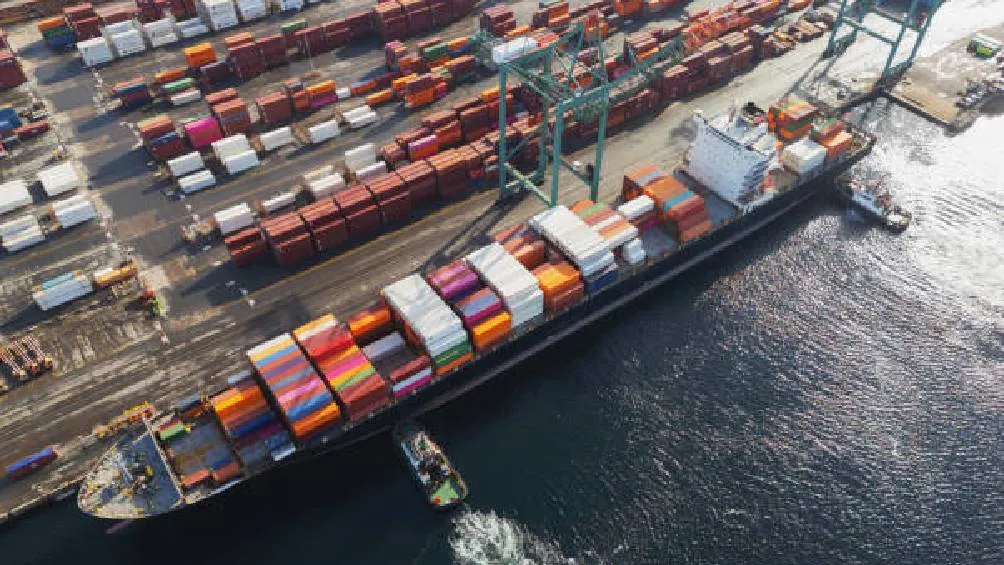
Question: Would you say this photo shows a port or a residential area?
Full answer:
This image shows a port.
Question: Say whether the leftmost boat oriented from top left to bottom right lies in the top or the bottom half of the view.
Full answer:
The leftmost boat oriented from top left to bottom right is in the bottom half of the image.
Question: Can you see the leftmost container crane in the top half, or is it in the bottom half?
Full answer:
The top half of the photo is where the leftmost container crane is.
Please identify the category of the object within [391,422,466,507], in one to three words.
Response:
boat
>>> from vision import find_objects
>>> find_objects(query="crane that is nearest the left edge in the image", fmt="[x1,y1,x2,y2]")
[485,15,700,208]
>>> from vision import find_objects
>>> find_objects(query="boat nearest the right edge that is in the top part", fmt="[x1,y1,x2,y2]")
[842,173,906,234]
